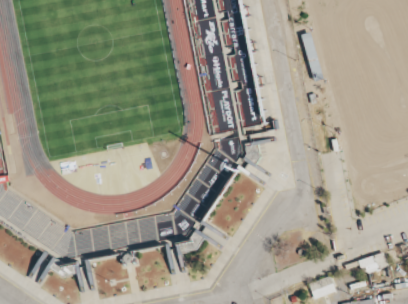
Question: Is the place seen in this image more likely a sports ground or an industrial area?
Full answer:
This looks like a sports ground.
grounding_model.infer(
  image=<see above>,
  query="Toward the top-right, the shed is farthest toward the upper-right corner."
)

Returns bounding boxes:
[302,32,323,80]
